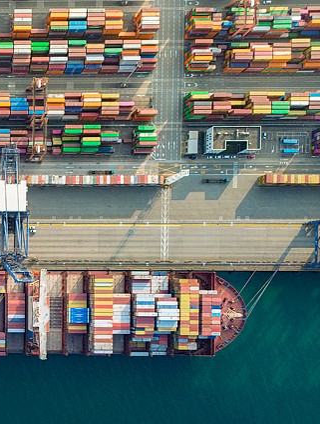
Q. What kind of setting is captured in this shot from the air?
port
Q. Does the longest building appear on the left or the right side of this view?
right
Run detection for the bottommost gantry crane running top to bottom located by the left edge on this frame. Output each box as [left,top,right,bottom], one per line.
[0,139,44,281]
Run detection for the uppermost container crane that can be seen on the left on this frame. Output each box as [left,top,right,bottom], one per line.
[23,74,47,123]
